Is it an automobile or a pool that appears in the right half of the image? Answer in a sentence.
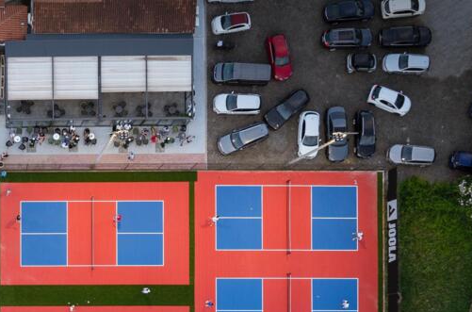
Looking in the right half of the image, you will find an automobile.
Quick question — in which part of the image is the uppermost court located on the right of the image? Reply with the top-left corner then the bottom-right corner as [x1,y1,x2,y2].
[196,172,379,264]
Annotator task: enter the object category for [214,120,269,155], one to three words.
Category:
car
